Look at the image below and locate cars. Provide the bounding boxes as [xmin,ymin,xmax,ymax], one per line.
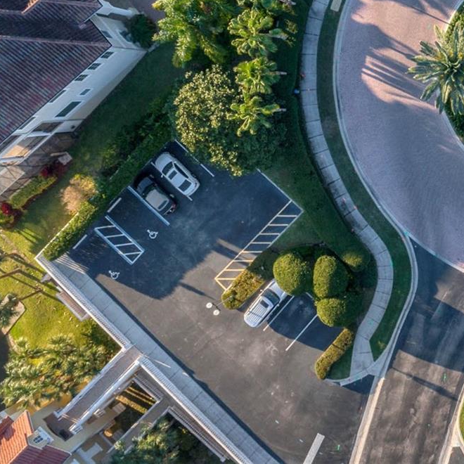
[243,281,285,328]
[156,150,201,198]
[136,172,180,219]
